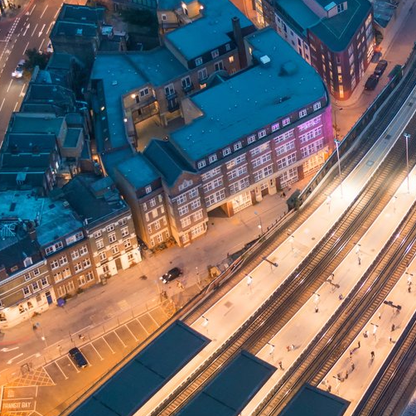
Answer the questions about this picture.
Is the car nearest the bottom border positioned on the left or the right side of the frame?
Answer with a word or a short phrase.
left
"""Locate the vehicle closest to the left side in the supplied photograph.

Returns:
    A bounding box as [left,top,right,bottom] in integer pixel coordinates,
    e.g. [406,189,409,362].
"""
[10,62,24,77]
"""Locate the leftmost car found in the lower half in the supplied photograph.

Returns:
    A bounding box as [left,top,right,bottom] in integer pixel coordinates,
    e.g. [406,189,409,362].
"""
[66,346,89,366]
